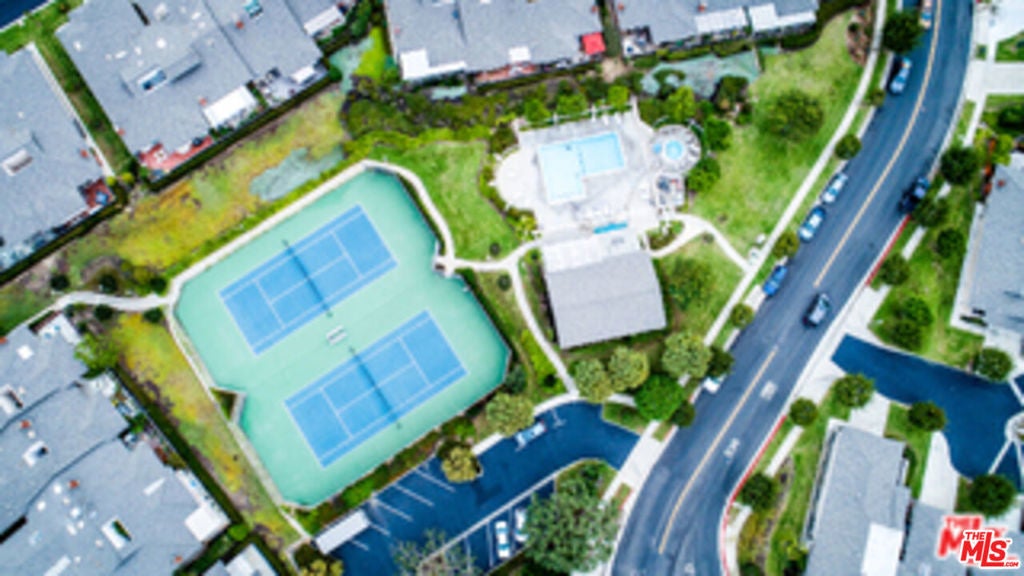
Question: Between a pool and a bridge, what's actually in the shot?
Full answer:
Looking from above, you can make out a pool.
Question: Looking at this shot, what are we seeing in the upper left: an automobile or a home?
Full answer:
Visible in the upper left is a home.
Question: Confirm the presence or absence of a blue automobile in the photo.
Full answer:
Yes, there is a blue automobile in the image.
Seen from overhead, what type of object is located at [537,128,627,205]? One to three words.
swimming pool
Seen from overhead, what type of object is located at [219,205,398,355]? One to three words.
tennis court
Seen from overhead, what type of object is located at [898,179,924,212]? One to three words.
car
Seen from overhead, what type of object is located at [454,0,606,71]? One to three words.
house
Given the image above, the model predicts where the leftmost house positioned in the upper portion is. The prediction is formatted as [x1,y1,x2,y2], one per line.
[0,44,108,258]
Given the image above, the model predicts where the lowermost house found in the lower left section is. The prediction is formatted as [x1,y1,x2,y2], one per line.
[205,542,276,576]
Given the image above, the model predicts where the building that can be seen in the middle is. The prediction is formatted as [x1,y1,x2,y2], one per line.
[542,228,667,348]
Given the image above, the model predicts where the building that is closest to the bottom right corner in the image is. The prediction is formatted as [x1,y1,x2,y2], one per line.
[898,501,1024,576]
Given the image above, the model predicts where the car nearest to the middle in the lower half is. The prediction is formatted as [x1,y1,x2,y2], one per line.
[514,421,545,445]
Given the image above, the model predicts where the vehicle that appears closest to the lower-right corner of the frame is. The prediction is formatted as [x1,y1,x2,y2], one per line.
[805,293,829,327]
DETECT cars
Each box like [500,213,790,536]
[888,60,913,94]
[496,520,511,556]
[763,264,788,296]
[799,207,825,240]
[706,371,725,390]
[514,421,545,445]
[918,0,934,26]
[515,508,529,540]
[805,293,829,327]
[898,179,924,212]
[823,171,848,202]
